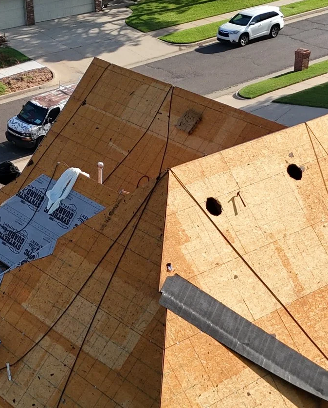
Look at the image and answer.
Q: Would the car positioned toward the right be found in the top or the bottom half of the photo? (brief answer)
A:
top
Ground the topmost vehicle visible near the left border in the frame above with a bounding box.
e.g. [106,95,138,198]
[0,70,82,147]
